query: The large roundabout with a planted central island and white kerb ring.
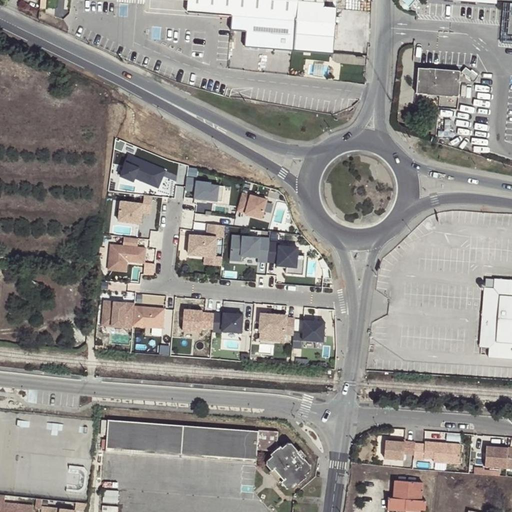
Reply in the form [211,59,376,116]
[296,128,420,251]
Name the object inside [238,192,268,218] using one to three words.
house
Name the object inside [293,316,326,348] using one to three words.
house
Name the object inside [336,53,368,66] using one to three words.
shed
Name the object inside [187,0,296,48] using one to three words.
building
